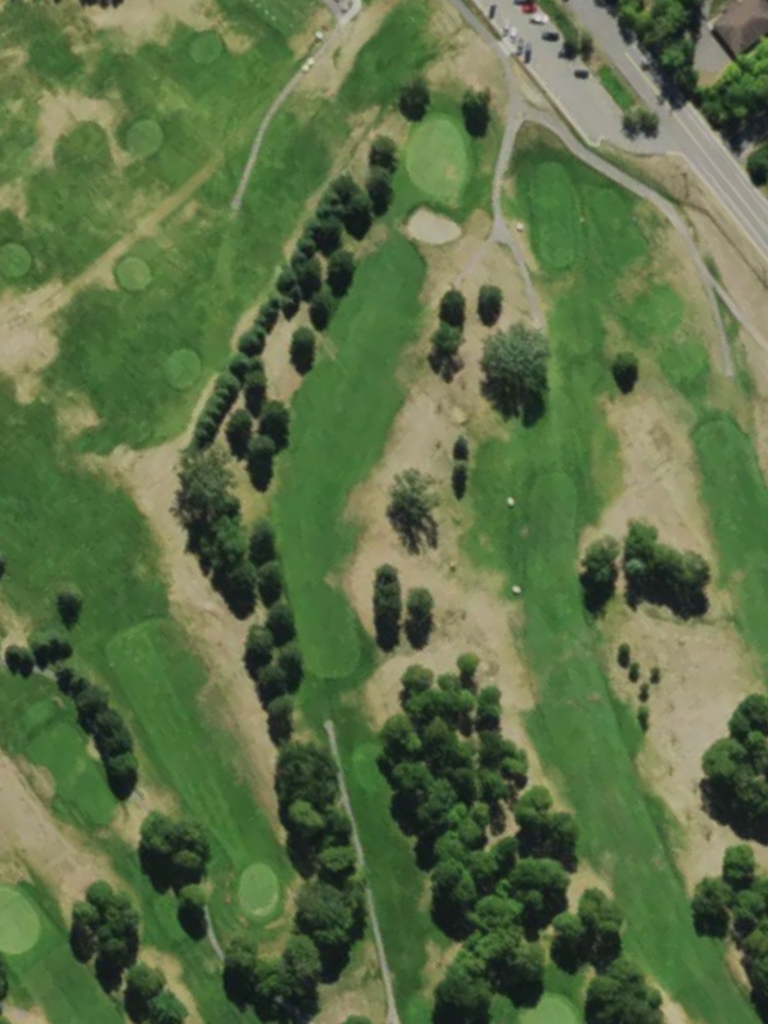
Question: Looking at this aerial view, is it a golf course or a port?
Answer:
golf course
